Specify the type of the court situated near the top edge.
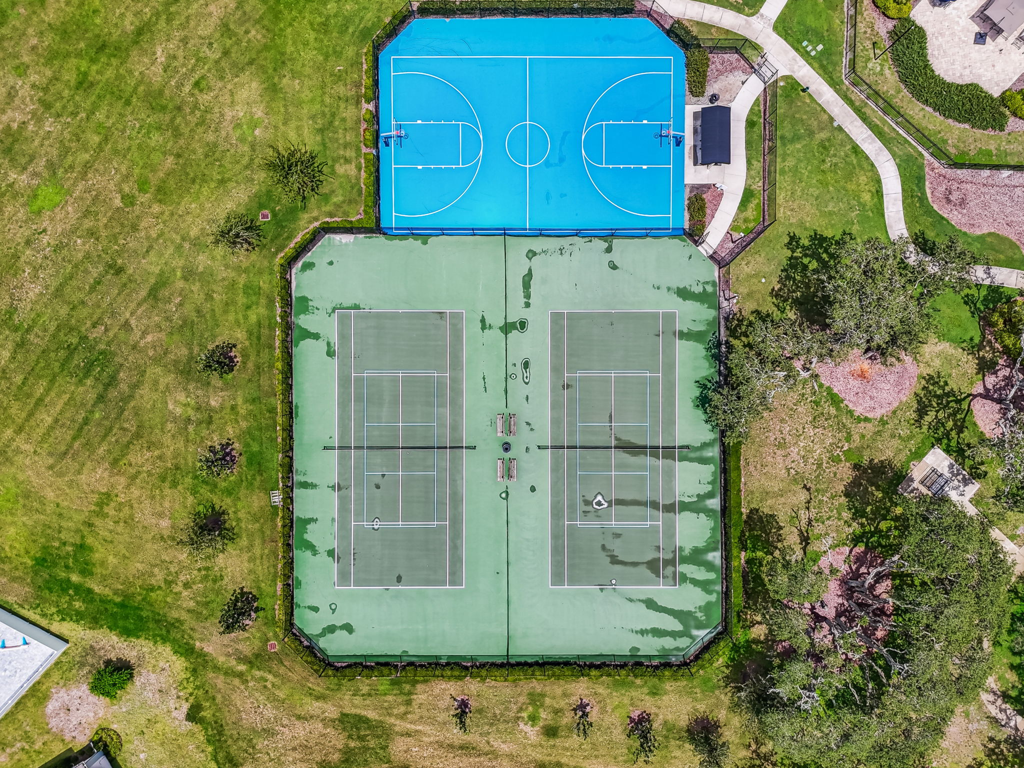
basketball court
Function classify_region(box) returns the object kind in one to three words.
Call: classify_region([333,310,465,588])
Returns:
tennis court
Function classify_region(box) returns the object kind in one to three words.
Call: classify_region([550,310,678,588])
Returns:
tennis court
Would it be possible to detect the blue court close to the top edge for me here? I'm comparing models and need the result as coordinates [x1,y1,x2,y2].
[378,16,686,236]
